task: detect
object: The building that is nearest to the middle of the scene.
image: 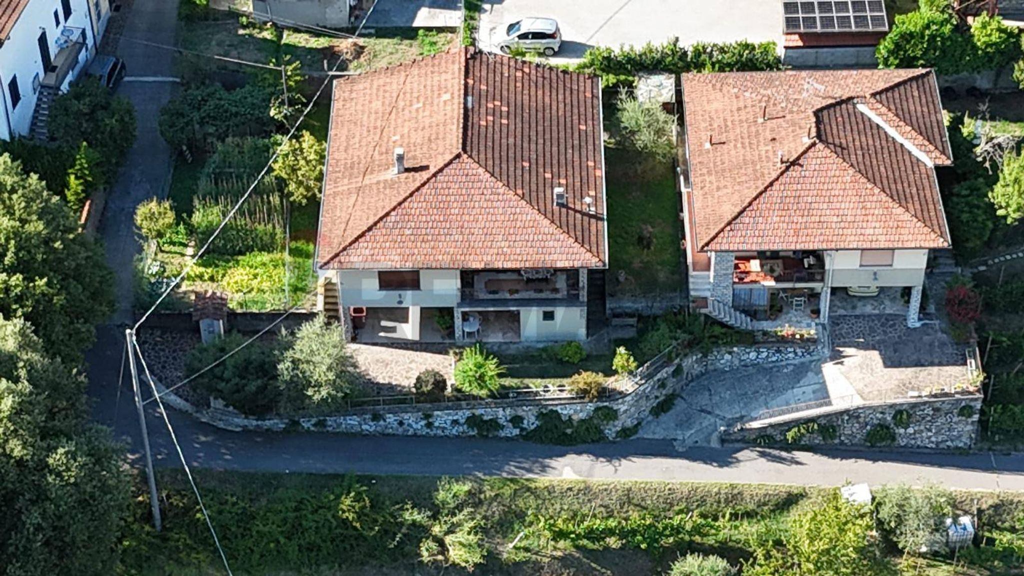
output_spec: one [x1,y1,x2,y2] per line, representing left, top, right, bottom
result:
[314,45,610,345]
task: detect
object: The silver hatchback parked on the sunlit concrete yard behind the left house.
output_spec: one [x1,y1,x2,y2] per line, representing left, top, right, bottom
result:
[494,21,562,60]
